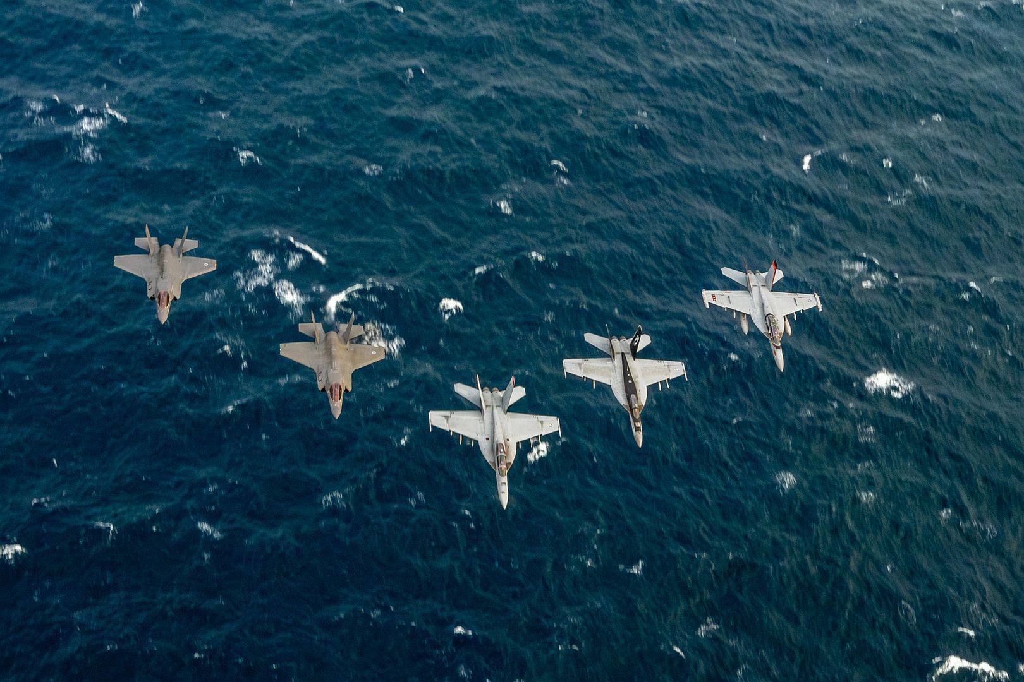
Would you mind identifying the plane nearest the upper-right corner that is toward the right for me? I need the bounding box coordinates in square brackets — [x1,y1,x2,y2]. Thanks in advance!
[701,260,822,372]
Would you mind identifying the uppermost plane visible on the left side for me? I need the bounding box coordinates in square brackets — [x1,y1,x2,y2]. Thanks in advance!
[114,224,217,324]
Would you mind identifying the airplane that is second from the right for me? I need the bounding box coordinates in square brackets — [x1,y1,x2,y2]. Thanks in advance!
[562,325,686,448]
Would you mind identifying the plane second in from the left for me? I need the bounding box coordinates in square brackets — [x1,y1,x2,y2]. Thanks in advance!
[279,312,385,419]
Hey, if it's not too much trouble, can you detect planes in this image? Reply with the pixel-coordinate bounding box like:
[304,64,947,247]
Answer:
[562,325,686,448]
[279,312,385,419]
[429,376,560,509]
[114,224,217,324]
[701,260,822,372]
